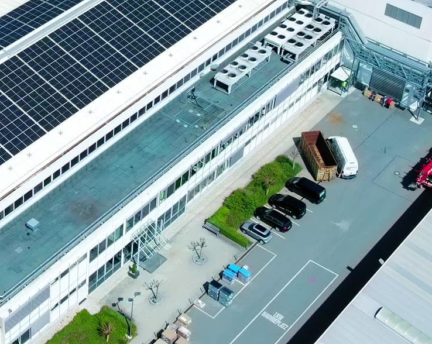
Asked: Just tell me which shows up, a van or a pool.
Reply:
van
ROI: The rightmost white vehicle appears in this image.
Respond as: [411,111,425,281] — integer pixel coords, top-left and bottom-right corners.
[327,137,357,176]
